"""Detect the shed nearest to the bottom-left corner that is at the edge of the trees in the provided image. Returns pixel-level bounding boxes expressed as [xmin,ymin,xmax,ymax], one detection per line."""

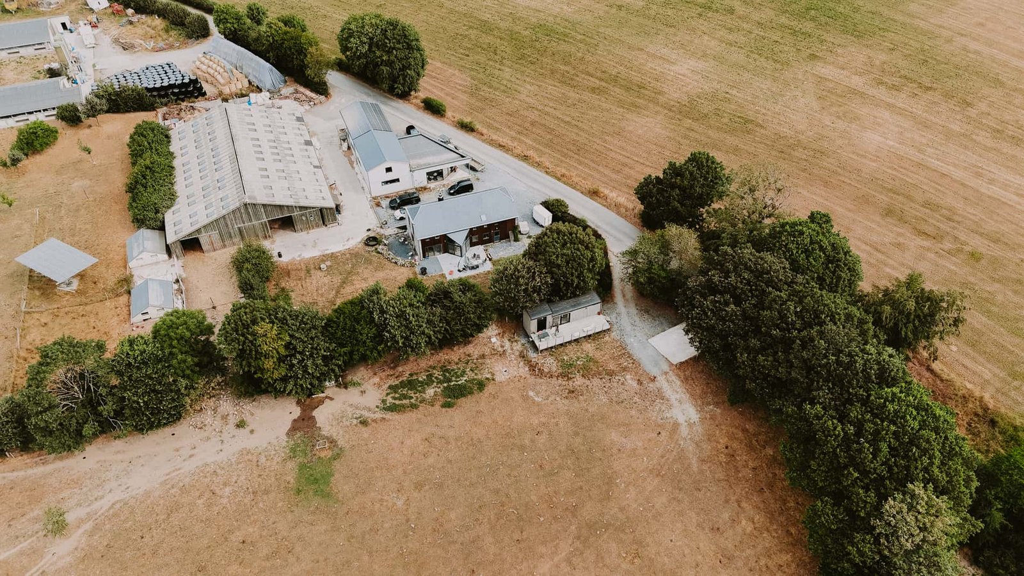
[131,278,180,327]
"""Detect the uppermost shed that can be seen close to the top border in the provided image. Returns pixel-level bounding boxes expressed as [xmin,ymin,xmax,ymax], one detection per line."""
[0,13,76,70]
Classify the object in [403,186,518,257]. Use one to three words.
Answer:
house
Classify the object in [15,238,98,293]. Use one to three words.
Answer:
solar panel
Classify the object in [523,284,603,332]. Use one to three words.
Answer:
building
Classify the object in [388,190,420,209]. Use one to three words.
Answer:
car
